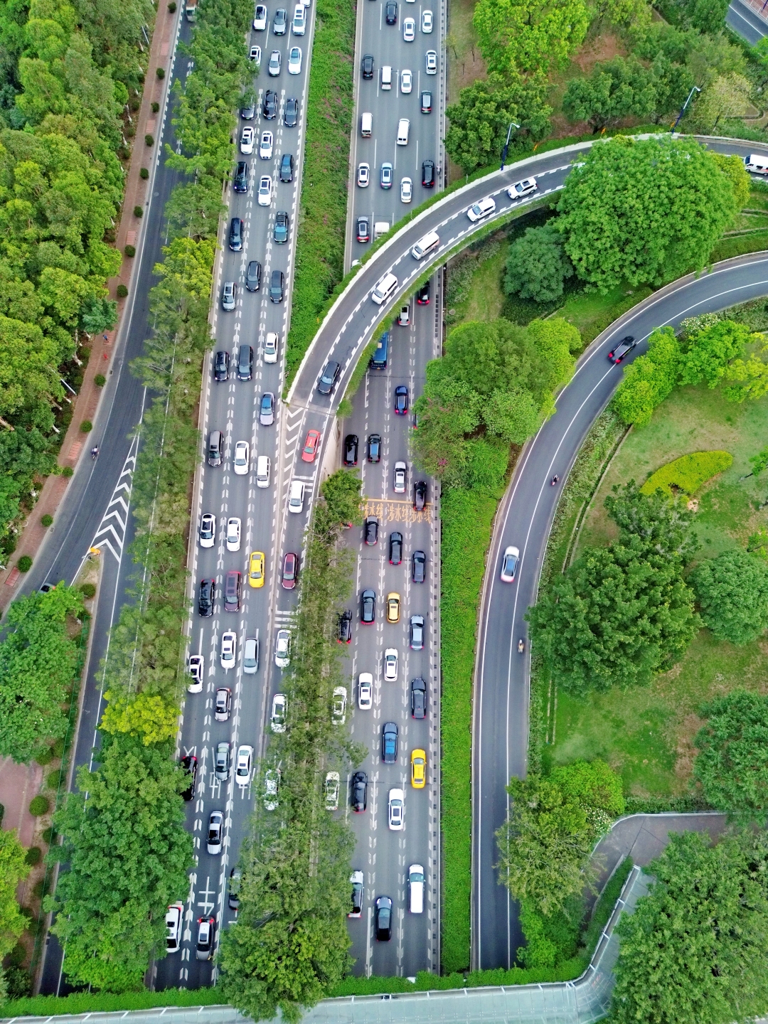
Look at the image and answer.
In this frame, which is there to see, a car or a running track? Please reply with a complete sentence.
This aerial view contains a car.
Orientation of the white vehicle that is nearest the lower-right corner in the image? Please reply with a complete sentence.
I'd say the white vehicle that is nearest the lower-right corner is aligned up and down in the picture.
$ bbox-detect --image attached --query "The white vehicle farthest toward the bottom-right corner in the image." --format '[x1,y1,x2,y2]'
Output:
[406,861,427,916]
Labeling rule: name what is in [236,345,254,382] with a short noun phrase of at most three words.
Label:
vehicle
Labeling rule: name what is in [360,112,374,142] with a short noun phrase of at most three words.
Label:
vehicle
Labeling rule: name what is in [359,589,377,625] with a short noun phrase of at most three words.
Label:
car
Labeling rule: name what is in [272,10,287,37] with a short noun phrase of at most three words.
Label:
car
